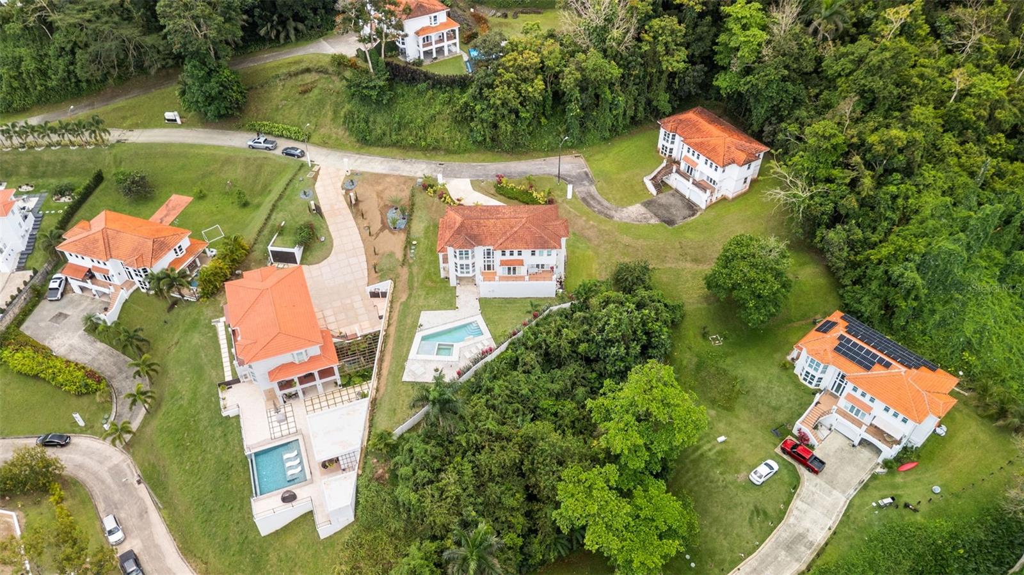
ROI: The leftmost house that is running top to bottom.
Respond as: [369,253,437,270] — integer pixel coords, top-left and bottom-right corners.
[0,187,42,278]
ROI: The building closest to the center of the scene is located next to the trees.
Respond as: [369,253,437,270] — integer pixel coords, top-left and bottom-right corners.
[439,205,570,299]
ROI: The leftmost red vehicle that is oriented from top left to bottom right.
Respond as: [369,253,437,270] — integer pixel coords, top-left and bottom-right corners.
[781,437,827,474]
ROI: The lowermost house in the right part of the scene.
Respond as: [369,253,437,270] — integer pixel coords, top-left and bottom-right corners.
[786,310,958,465]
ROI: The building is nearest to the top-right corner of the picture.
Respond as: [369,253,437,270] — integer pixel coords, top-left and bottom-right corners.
[652,107,769,207]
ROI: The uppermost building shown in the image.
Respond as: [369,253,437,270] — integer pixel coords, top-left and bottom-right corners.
[359,0,463,61]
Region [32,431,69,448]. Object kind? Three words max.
car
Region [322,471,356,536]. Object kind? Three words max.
shed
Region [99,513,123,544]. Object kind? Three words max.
car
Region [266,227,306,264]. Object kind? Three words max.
building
